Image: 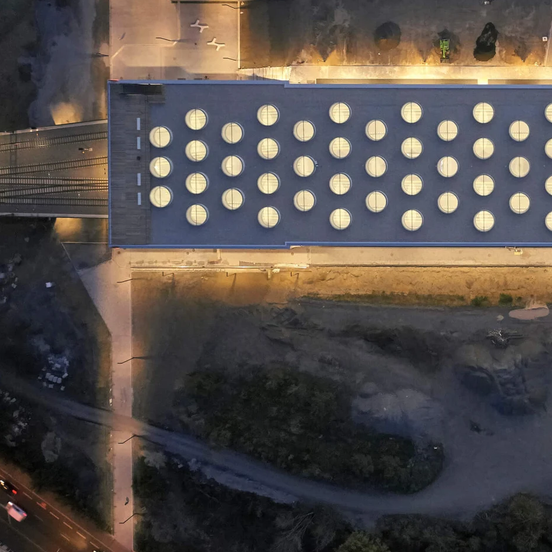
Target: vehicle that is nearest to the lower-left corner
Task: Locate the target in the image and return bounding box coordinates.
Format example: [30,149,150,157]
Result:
[2,504,25,521]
